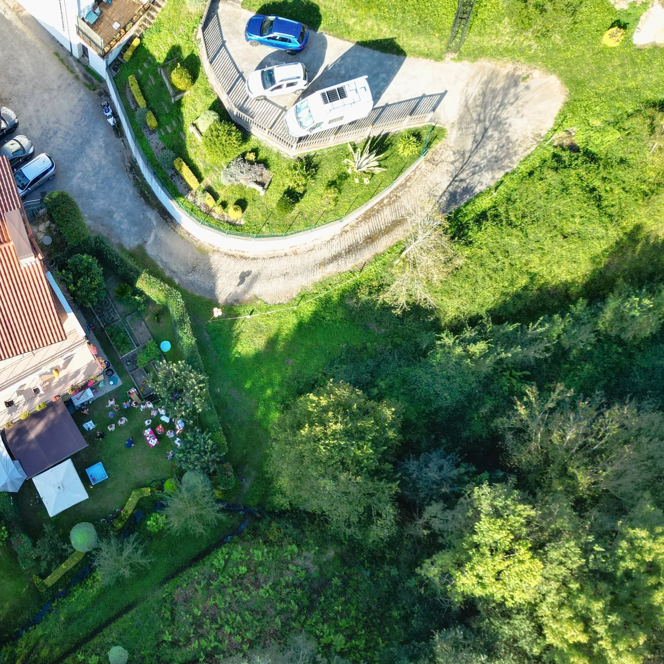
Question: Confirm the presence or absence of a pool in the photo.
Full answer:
Yes, the frame does contain a pool.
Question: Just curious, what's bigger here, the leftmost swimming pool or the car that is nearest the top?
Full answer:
It is the car that is larger, not the swimming pool.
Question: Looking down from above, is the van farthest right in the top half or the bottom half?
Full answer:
The van farthest right is in the top half of the image.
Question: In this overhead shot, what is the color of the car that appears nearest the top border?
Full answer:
The color of the car that appears nearest the top border is blue.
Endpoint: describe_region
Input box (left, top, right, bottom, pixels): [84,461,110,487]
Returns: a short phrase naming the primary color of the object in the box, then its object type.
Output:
blue swimming pool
